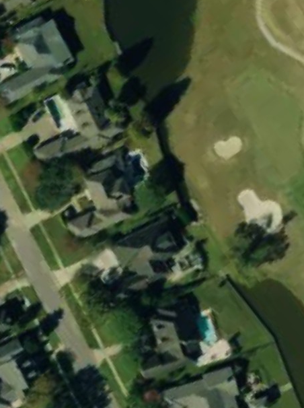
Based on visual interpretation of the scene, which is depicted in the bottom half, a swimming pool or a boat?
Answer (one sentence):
It is a swimming pool that can be seen in the bottom half.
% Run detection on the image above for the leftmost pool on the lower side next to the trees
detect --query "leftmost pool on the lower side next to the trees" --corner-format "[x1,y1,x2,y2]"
[197,307,232,367]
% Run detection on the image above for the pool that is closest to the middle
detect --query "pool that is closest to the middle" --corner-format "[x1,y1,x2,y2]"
[126,150,148,184]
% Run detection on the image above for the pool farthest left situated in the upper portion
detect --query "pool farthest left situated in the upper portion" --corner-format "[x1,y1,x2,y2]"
[43,94,78,131]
